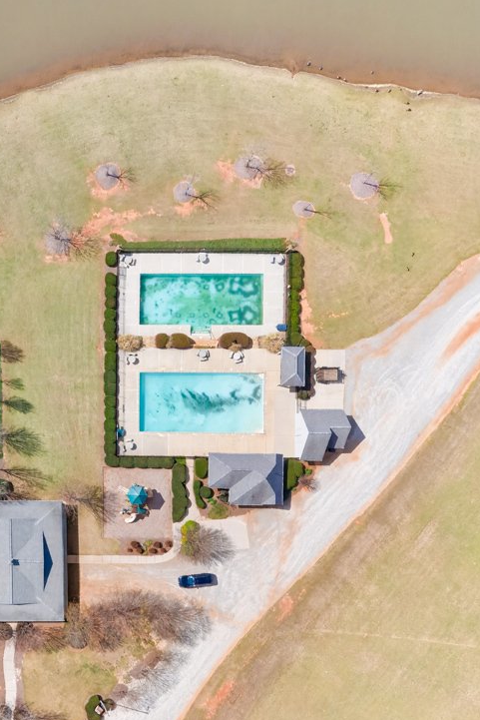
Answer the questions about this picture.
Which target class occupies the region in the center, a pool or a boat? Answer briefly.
pool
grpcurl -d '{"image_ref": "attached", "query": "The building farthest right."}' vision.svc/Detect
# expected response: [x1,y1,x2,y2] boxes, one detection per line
[294,410,351,461]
